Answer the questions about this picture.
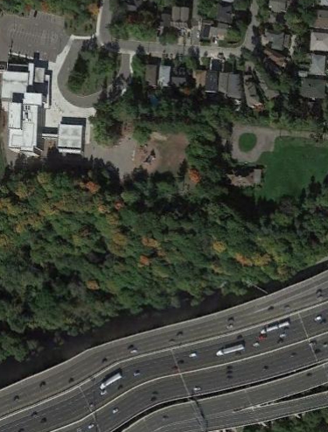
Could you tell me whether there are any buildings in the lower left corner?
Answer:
No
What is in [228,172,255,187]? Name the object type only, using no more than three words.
house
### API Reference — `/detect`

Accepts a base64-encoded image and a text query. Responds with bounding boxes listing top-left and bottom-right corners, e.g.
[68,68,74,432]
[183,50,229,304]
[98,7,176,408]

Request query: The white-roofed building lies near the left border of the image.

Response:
[1,63,85,155]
